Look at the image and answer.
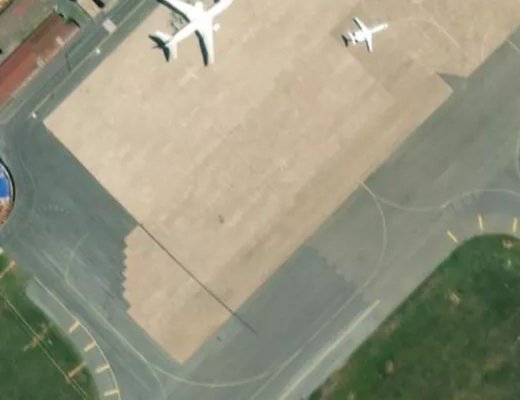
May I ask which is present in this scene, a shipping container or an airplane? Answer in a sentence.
Visible in the photo is an airplane.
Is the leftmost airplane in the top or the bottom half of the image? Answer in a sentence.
You can find the leftmost airplane in the top half.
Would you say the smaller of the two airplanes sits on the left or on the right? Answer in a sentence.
The smaller of the two airplanes appears in the right half of the scene.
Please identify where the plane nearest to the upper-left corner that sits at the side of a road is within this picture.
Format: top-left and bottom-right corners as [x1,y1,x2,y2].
[155,0,233,64]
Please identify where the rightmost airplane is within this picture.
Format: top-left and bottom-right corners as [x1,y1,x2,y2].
[347,16,388,52]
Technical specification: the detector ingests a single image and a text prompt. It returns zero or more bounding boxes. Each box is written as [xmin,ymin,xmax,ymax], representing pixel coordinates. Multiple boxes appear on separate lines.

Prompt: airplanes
[155,0,233,64]
[347,16,388,52]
